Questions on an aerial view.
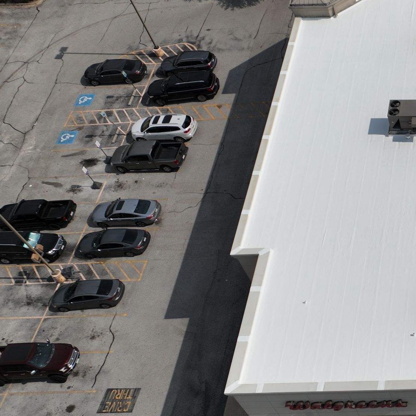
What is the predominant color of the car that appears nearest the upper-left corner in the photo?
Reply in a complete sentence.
From above, the car that appears nearest the upper-left corner appears black.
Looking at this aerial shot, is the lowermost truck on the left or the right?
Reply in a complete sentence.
The lowermost truck is on the left side of the image.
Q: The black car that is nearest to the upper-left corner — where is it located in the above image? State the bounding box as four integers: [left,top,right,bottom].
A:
[79,59,144,85]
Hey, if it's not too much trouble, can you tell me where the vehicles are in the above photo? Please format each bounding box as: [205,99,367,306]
[75,225,150,258]
[147,71,218,104]
[159,51,219,78]
[0,342,84,384]
[107,138,193,173]
[131,111,200,140]
[0,194,83,229]
[79,59,144,85]
[46,276,126,310]
[87,196,160,226]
